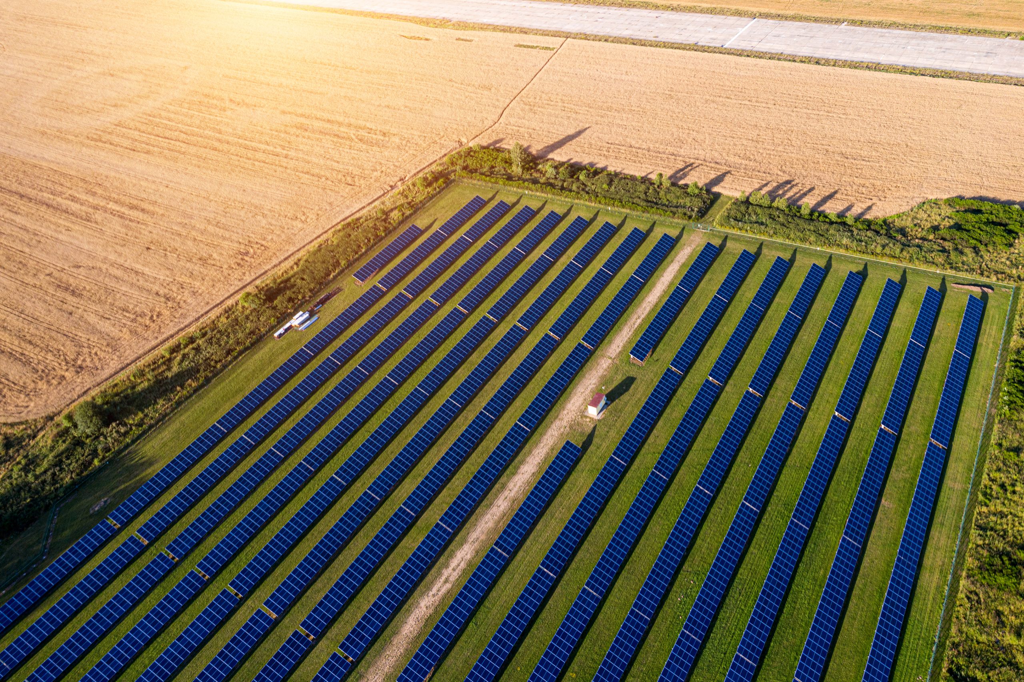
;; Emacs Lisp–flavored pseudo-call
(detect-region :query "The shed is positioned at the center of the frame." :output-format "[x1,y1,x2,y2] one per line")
[587,392,609,416]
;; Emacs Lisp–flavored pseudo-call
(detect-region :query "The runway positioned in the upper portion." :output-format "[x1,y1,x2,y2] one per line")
[245,0,1024,77]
